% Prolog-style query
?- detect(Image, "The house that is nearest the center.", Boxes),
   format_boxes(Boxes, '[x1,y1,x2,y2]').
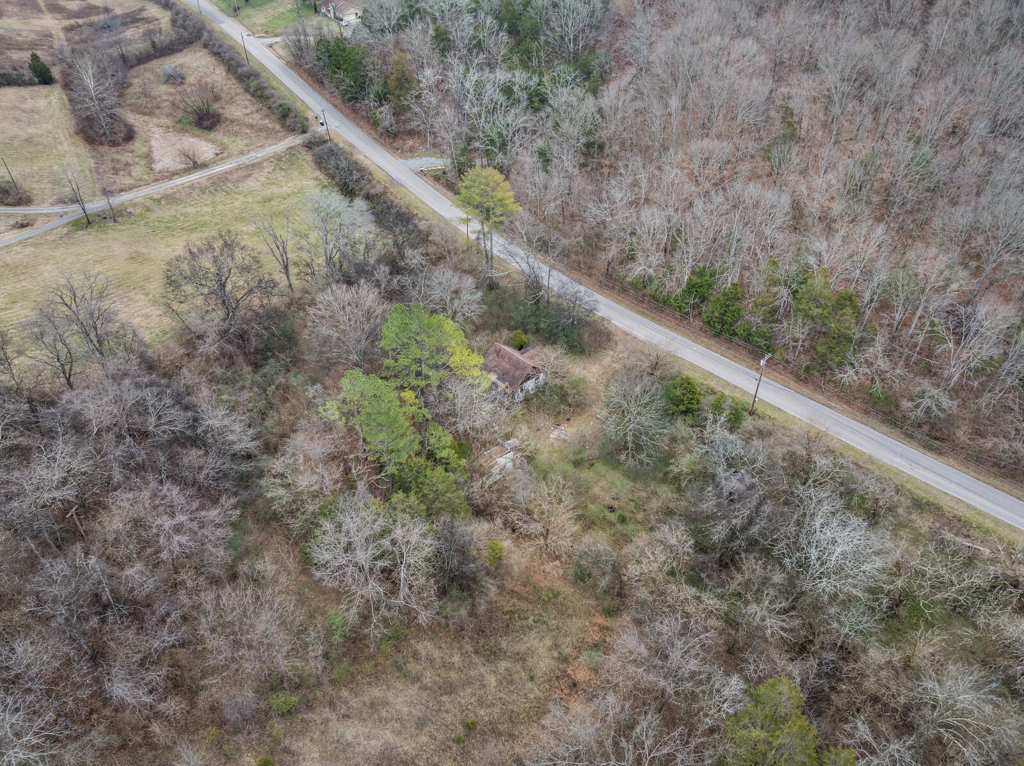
[478,346,545,406]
